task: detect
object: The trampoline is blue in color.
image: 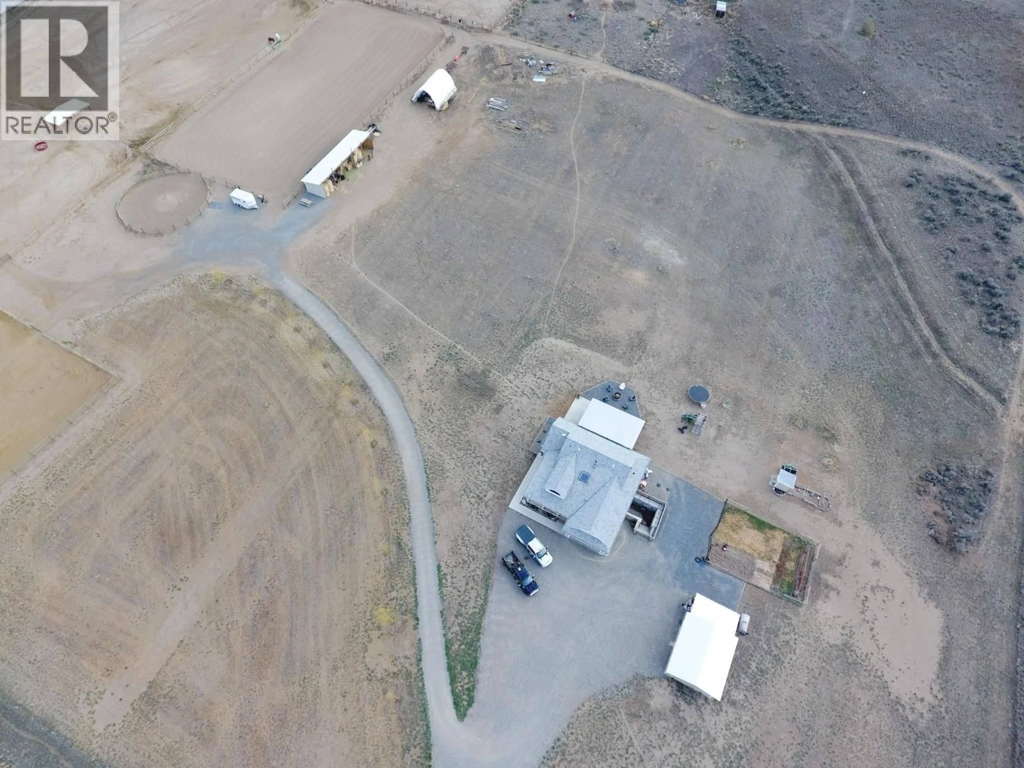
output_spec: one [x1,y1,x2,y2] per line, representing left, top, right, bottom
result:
[688,385,710,406]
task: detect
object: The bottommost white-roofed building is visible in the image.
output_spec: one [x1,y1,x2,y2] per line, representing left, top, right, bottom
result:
[663,593,743,702]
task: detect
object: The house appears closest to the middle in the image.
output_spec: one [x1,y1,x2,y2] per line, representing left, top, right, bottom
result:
[520,417,652,557]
